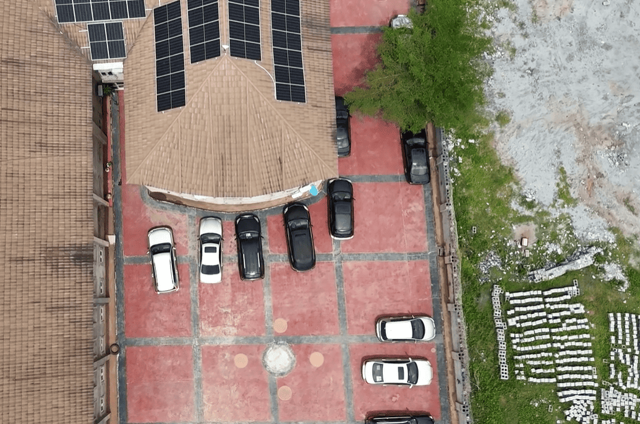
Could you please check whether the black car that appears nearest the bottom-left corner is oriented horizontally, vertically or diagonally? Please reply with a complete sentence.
From this overhead view, the black car that appears nearest the bottom-left corner appears to run vertically.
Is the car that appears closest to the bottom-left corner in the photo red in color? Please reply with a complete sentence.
No, the car that appears closest to the bottom-left corner is actually white.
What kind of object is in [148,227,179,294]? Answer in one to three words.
car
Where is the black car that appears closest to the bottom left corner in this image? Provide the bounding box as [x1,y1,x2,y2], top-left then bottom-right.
[234,213,266,280]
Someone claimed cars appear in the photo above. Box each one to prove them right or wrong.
[195,217,226,284]
[283,203,317,272]
[326,177,357,240]
[234,213,266,280]
[364,414,435,424]
[375,314,435,346]
[361,357,432,390]
[148,227,179,294]
[336,96,355,157]
[398,120,432,184]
